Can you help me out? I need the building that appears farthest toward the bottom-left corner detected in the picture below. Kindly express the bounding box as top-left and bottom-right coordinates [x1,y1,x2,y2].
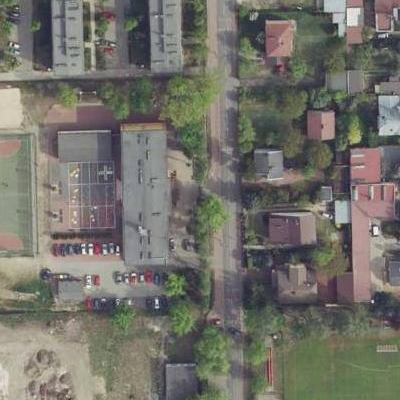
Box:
[58,280,83,300]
